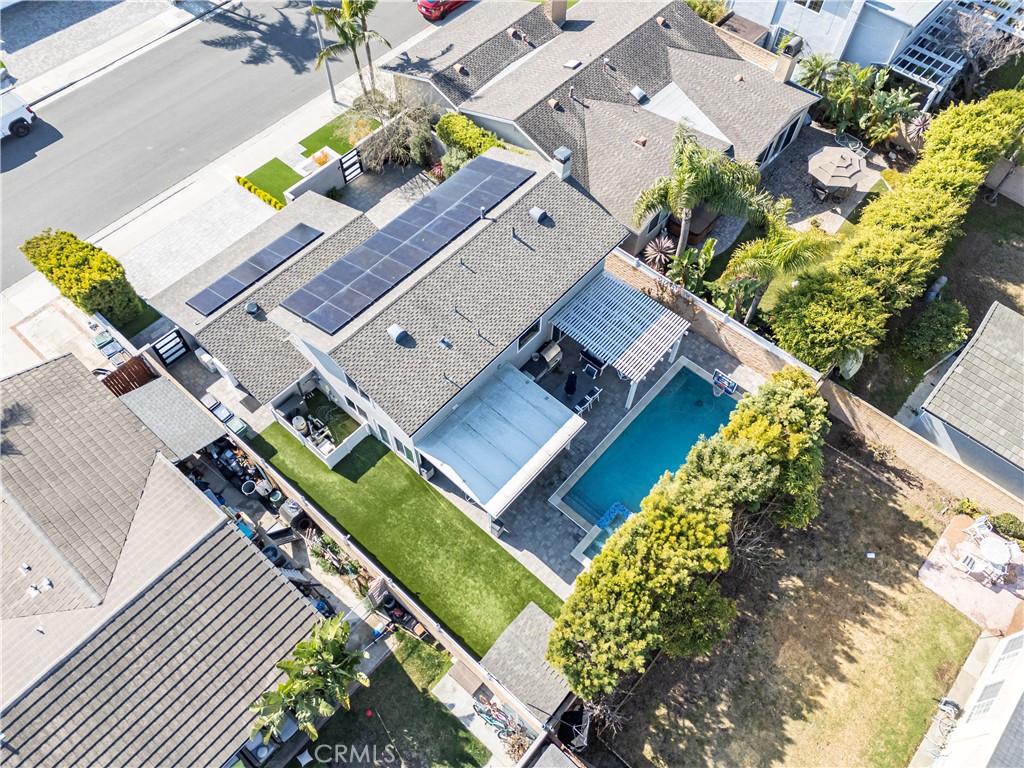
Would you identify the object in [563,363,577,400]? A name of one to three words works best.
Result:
umbrella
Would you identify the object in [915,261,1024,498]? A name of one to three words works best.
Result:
house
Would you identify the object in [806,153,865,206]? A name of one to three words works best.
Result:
umbrella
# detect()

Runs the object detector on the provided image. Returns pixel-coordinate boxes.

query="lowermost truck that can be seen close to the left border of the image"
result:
[0,99,43,143]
